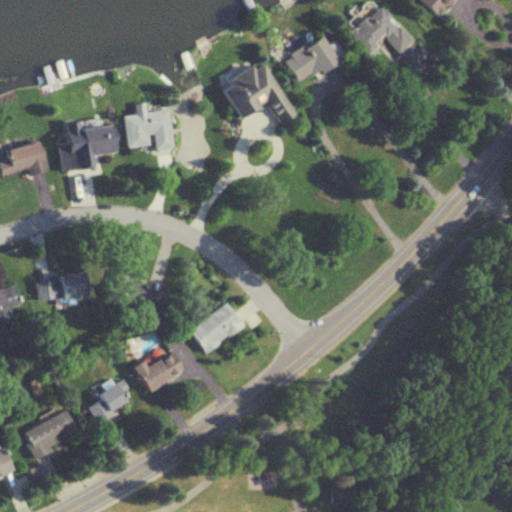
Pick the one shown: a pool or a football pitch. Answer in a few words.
pool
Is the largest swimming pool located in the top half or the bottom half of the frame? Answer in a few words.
bottom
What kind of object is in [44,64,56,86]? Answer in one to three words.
boat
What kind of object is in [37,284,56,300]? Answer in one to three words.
building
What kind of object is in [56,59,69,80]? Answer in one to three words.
boat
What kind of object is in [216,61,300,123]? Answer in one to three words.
house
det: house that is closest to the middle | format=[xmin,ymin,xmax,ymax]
[194,304,248,353]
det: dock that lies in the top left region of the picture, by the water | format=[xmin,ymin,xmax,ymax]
[40,70,104,94]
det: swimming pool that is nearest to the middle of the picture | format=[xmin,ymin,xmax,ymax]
[127,334,159,360]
